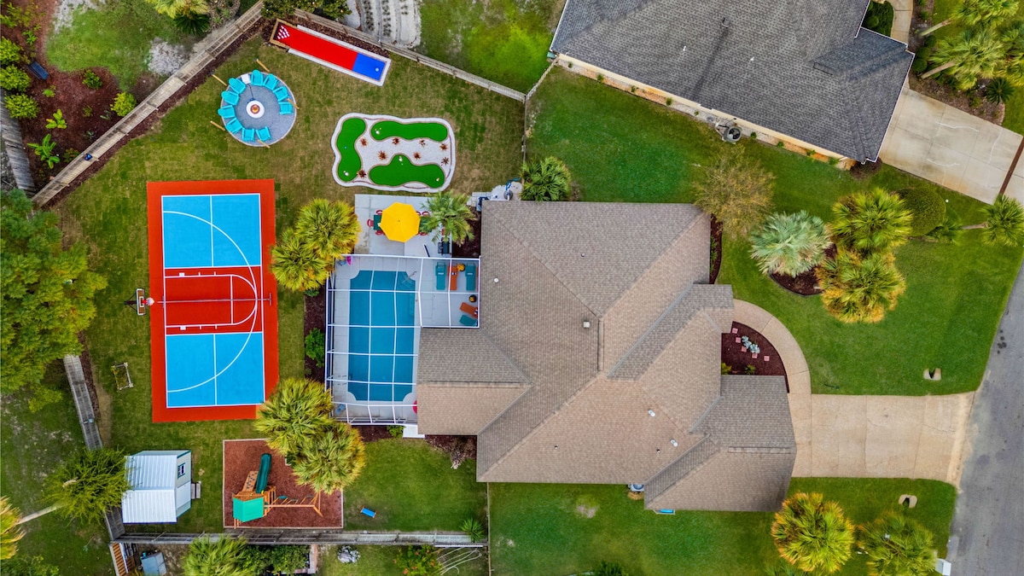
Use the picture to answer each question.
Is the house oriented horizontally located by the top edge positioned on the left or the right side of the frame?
right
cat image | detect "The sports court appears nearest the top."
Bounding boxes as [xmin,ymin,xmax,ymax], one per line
[147,179,278,422]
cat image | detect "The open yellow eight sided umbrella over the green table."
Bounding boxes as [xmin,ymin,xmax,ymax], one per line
[382,203,421,243]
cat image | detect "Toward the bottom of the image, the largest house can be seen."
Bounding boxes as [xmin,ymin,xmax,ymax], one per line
[417,200,797,512]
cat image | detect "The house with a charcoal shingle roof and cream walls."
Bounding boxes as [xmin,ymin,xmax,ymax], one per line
[550,0,915,162]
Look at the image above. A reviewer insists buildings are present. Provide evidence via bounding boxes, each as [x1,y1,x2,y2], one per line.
[417,200,797,512]
[116,449,191,522]
[550,0,915,162]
